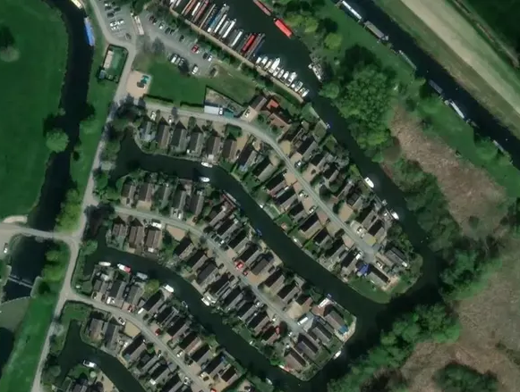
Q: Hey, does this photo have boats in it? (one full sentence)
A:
Yes, a boat appears in the view.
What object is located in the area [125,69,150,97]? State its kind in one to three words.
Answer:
playground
